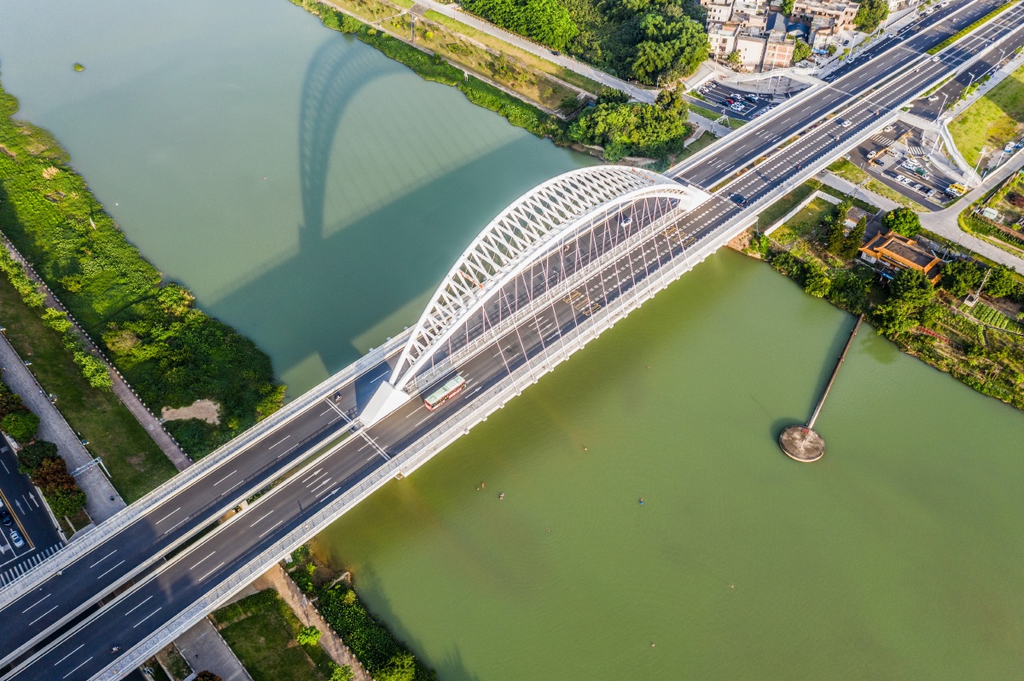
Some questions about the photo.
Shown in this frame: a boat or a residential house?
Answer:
residential house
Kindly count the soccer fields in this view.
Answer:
0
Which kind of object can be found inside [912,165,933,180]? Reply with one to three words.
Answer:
vehicle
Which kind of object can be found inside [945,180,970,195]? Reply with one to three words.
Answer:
vehicle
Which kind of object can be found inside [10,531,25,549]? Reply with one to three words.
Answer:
car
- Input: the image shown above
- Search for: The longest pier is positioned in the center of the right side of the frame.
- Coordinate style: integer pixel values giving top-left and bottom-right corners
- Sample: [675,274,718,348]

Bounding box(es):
[779,312,866,464]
